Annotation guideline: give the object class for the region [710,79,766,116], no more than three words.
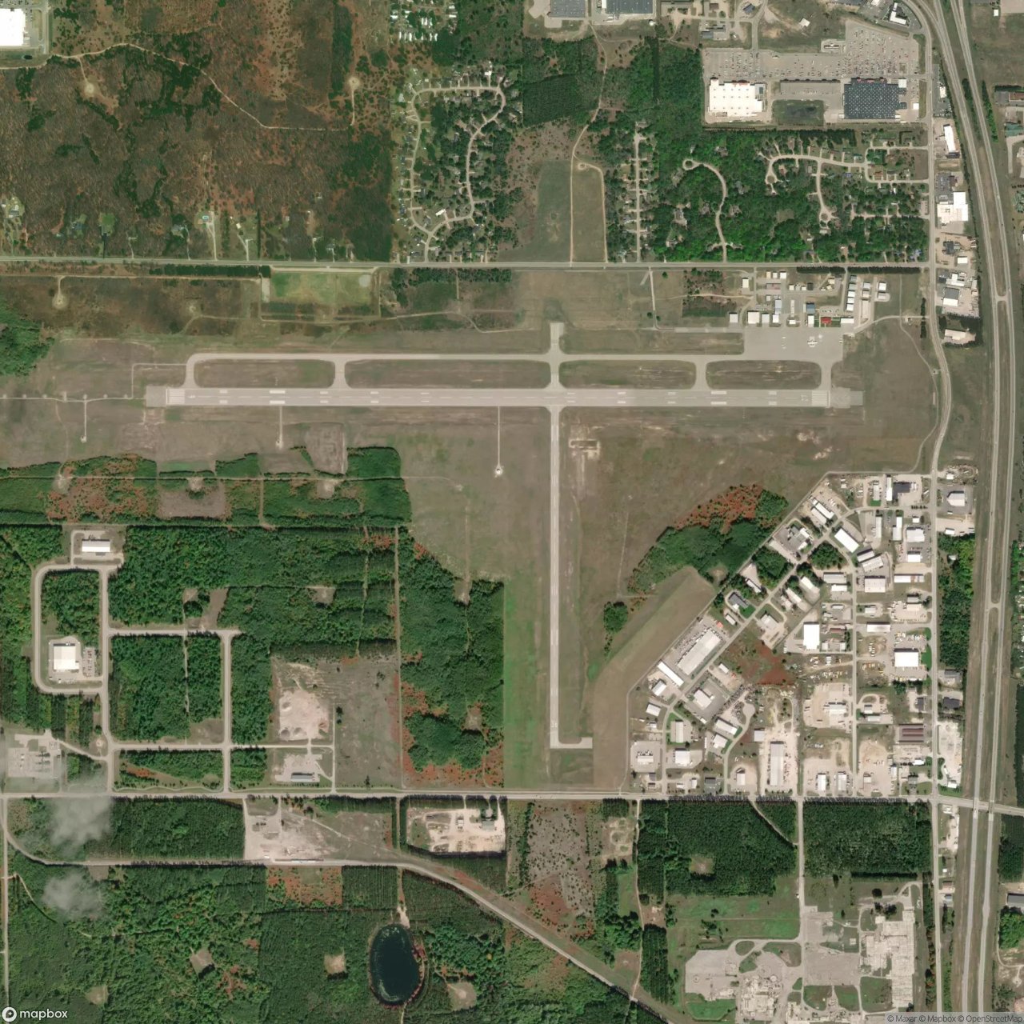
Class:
building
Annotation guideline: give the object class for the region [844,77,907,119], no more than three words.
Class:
building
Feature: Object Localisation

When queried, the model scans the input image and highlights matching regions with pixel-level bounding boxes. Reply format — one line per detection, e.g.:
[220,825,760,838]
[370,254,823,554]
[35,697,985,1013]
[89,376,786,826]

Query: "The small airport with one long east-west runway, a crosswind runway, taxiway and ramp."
[146,323,863,749]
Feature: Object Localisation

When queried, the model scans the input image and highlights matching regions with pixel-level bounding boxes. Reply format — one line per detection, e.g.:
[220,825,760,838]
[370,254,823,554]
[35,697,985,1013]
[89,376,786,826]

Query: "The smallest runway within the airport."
[545,405,592,749]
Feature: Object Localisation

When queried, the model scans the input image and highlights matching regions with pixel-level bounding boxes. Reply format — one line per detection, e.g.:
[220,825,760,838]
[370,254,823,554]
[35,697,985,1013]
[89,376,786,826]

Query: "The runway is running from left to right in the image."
[165,388,831,407]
